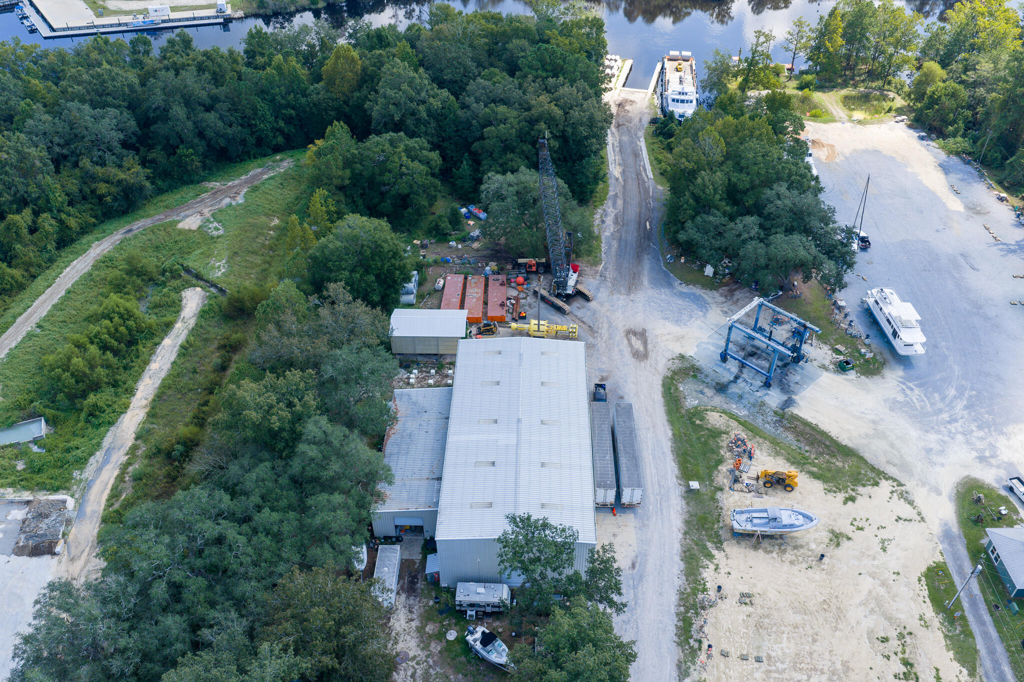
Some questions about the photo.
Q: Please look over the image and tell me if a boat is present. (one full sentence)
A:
Yes, the image includes a boat.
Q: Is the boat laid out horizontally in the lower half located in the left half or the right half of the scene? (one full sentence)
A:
The boat laid out horizontally in the lower half sits on the right side.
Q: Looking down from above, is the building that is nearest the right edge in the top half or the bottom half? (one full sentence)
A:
It is in the bottom half that the building that is nearest the right edge appears.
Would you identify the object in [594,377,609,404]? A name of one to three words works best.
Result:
vehicle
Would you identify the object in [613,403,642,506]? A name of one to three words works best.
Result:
trailer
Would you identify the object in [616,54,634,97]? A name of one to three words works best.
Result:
pier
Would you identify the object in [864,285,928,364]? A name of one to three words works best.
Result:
boat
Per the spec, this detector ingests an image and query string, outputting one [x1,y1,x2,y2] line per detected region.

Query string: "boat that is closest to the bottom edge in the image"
[464,622,511,667]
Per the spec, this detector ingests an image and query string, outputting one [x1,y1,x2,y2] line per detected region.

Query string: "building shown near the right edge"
[979,528,1024,603]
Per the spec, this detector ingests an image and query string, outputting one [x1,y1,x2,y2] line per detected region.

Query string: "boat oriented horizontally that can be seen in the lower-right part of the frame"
[727,509,820,542]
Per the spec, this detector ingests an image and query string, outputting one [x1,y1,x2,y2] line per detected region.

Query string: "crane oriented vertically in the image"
[535,131,593,314]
